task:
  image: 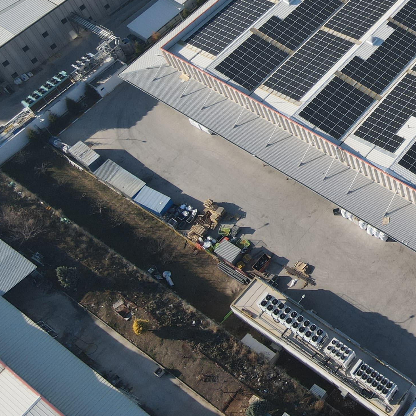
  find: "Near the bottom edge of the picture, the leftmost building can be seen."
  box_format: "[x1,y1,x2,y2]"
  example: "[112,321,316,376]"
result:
[0,298,148,416]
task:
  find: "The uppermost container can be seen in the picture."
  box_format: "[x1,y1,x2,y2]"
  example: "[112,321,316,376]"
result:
[69,140,104,173]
